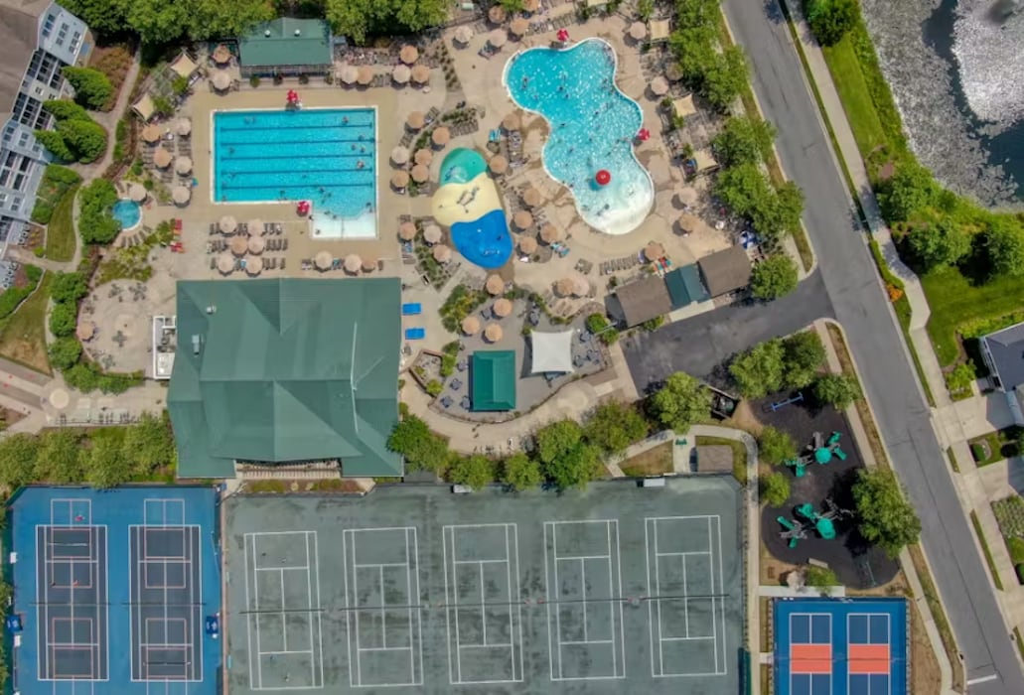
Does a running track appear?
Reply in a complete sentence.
No, there appears to be no running track in this shot.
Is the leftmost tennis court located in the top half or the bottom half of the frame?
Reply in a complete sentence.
It is in the bottom half that the leftmost tennis court appears.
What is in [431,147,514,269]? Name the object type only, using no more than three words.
swimming pool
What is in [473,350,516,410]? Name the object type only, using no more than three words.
shed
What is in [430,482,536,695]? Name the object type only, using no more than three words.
tennis court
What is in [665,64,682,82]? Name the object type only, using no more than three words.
umbrella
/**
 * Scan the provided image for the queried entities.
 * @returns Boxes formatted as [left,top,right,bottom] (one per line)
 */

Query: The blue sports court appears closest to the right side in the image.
[840,599,907,695]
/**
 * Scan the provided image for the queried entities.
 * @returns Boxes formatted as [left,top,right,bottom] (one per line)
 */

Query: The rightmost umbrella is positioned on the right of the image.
[738,232,754,248]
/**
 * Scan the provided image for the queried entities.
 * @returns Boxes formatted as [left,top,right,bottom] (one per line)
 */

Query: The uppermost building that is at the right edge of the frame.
[978,321,1024,427]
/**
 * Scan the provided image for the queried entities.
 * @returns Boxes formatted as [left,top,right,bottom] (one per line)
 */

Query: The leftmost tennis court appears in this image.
[14,489,119,695]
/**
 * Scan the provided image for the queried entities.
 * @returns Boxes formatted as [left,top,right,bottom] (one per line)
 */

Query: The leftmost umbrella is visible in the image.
[78,321,97,340]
